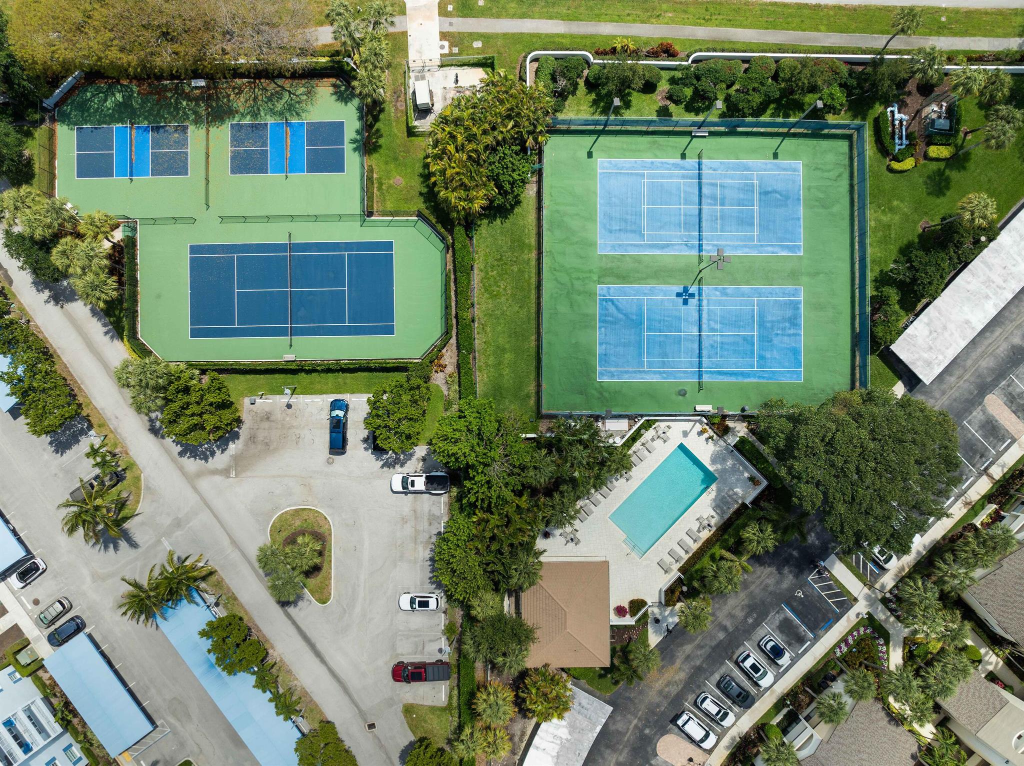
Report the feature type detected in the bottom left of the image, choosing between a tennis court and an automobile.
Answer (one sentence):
Looking in the bottom left of the image, you will find an automobile.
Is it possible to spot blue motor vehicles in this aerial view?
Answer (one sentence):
Yes, you can see a blue motor vehicle in this photo.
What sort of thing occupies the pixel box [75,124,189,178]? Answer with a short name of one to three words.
sports court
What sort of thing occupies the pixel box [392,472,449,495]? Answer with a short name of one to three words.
truck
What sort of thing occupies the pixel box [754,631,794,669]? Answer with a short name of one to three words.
car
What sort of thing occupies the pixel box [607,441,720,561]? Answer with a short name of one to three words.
swimming pool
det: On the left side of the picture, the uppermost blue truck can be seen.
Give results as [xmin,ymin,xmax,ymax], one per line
[327,399,349,452]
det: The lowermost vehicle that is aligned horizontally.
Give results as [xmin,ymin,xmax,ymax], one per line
[394,660,450,684]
